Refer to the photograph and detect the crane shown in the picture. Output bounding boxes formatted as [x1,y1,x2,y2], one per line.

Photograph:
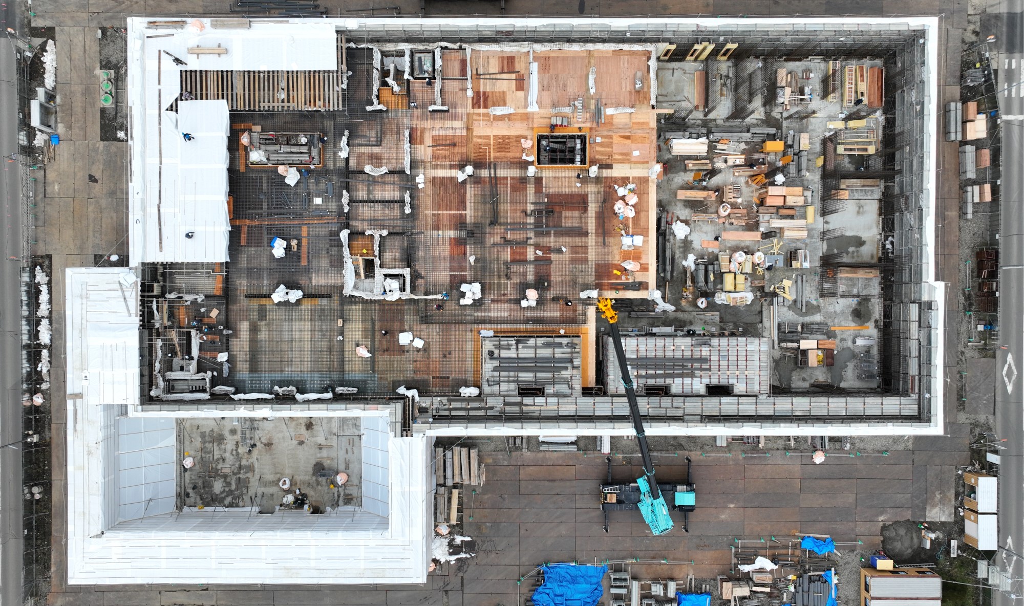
[580,295,696,536]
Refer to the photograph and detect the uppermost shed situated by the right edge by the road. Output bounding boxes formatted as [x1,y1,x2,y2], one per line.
[964,472,997,512]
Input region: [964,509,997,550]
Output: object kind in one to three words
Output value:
shed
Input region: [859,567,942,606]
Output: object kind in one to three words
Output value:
building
